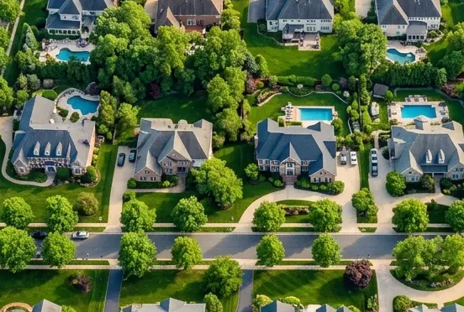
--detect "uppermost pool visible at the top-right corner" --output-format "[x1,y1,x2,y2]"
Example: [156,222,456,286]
[386,47,415,63]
